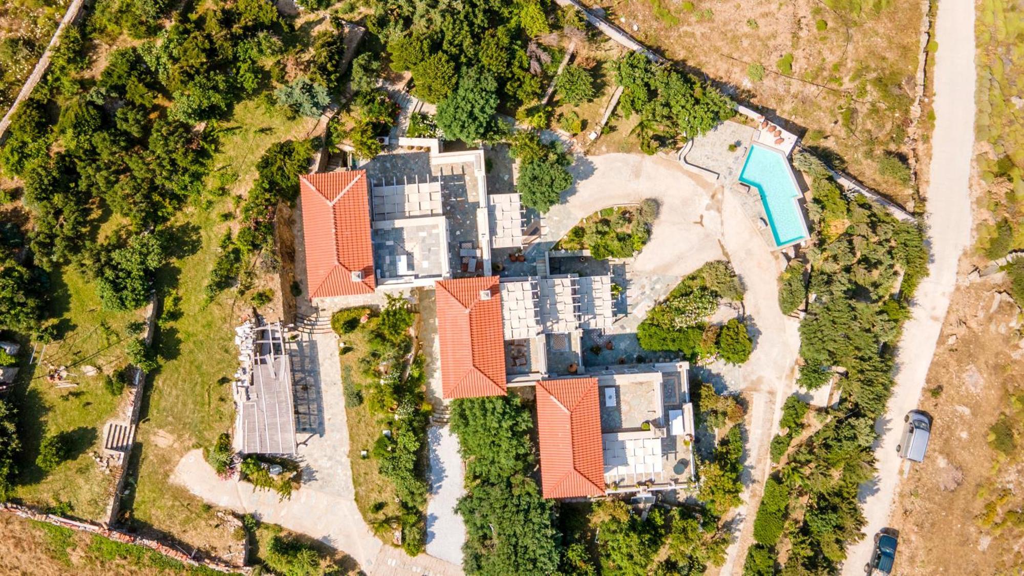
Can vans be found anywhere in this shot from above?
Yes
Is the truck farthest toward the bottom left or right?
right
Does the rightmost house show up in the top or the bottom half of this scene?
bottom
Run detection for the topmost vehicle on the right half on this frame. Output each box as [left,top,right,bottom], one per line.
[896,408,935,465]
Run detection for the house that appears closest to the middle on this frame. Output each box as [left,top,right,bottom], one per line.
[435,275,508,400]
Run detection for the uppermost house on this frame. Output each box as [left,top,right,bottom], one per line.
[298,168,387,300]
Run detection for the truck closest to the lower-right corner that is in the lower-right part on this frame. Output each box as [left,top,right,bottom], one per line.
[861,523,902,576]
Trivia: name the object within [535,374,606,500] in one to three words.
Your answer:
house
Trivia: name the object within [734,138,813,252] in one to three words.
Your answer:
swimming pool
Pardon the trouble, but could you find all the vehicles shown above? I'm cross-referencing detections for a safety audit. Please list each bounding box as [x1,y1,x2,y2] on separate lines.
[896,408,935,465]
[861,523,902,576]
